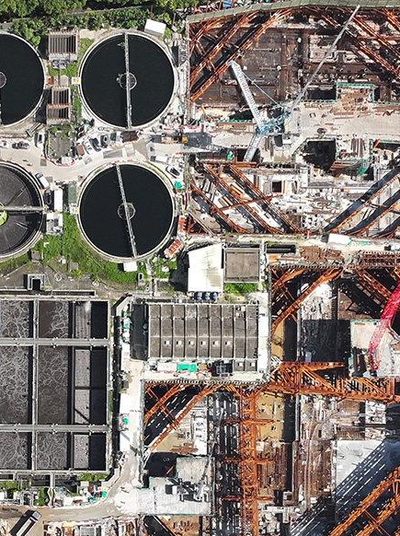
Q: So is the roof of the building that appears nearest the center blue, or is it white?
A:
white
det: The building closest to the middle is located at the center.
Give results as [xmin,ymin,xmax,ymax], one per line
[188,244,224,297]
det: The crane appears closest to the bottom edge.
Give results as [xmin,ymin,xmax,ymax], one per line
[363,277,400,383]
